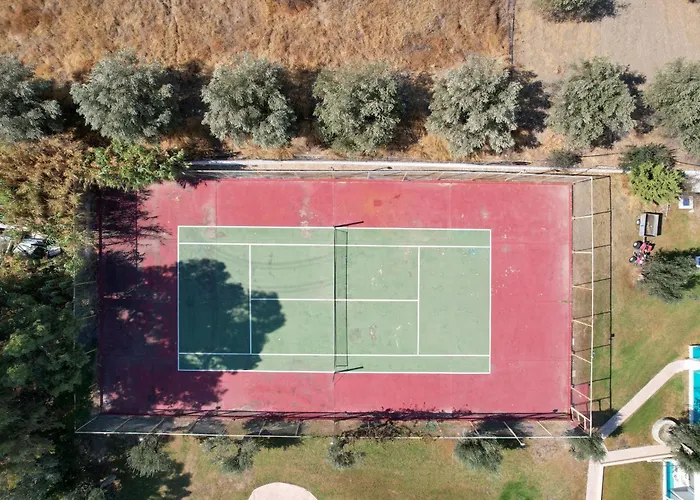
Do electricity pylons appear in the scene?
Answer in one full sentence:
No, I can see no electricity pylon in this picture.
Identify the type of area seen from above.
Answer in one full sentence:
This looks like a sports ground.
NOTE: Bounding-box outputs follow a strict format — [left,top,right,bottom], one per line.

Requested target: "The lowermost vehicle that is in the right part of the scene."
[629,239,657,267]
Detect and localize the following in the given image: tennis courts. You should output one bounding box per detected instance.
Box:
[96,178,588,434]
